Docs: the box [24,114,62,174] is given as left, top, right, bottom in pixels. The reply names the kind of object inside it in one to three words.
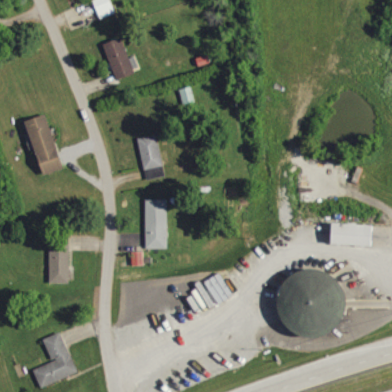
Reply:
house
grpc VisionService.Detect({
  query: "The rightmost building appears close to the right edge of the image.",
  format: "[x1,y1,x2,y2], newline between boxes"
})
[330,223,374,247]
